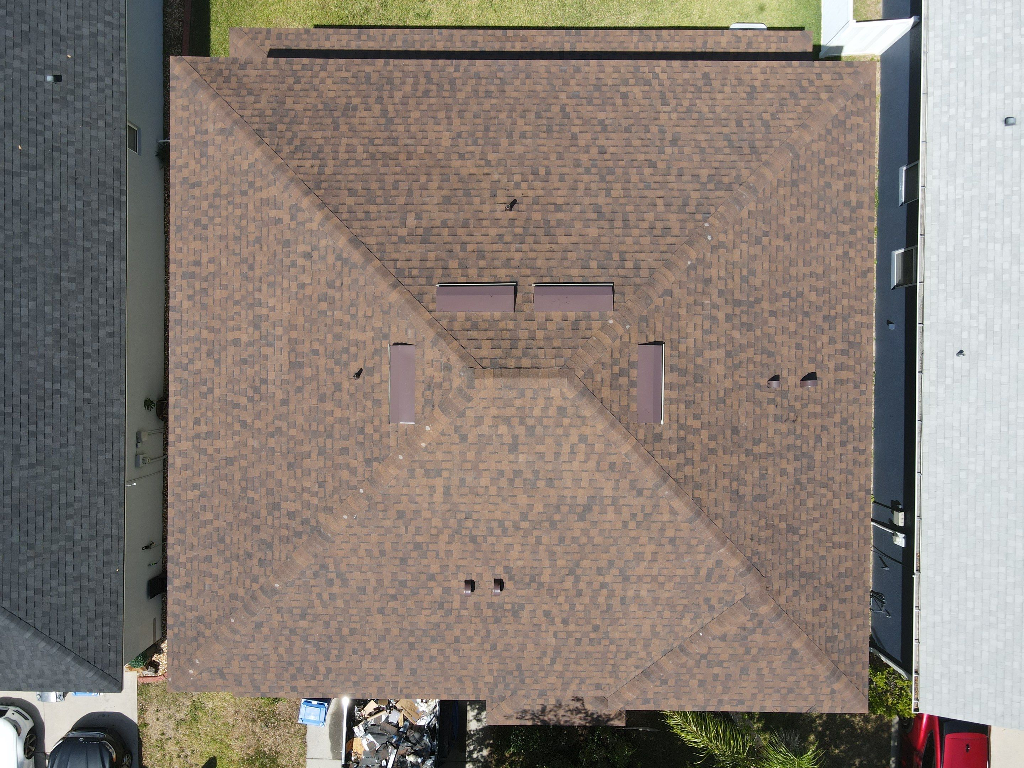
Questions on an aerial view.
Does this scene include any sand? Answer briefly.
No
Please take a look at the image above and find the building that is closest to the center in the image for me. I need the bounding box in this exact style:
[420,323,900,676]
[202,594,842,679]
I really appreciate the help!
[166,26,877,727]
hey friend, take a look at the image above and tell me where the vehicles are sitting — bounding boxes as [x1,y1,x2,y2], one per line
[49,726,137,768]
[891,681,993,768]
[0,708,41,768]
